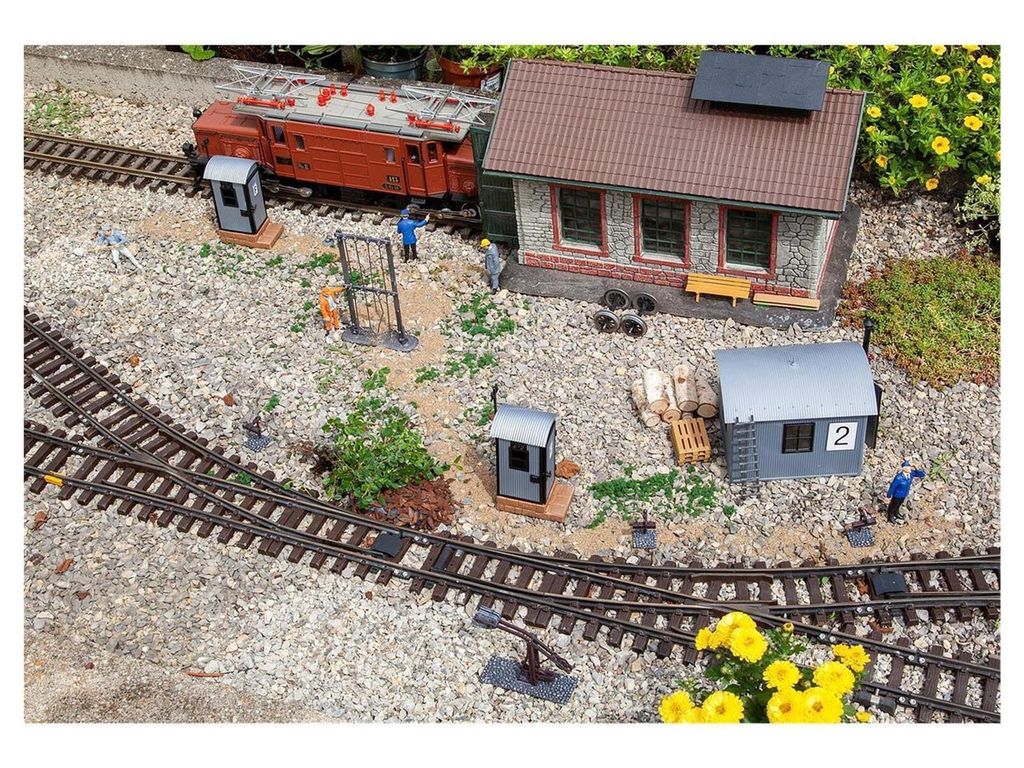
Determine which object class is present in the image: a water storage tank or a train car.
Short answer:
train car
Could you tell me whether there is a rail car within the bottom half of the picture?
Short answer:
No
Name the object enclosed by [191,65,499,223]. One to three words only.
rail car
